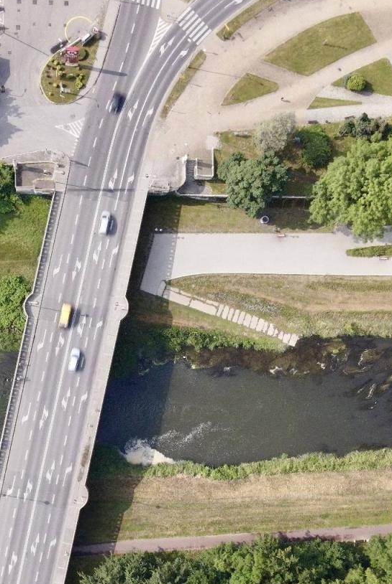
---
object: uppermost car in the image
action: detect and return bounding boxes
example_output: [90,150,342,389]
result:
[109,91,122,114]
